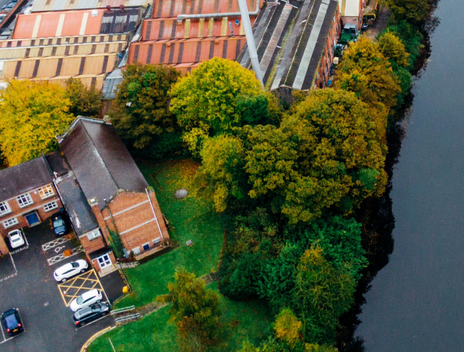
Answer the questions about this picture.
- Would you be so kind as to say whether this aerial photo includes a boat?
No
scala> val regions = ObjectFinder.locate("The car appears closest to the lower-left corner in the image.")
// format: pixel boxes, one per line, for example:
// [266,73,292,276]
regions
[3,307,23,334]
